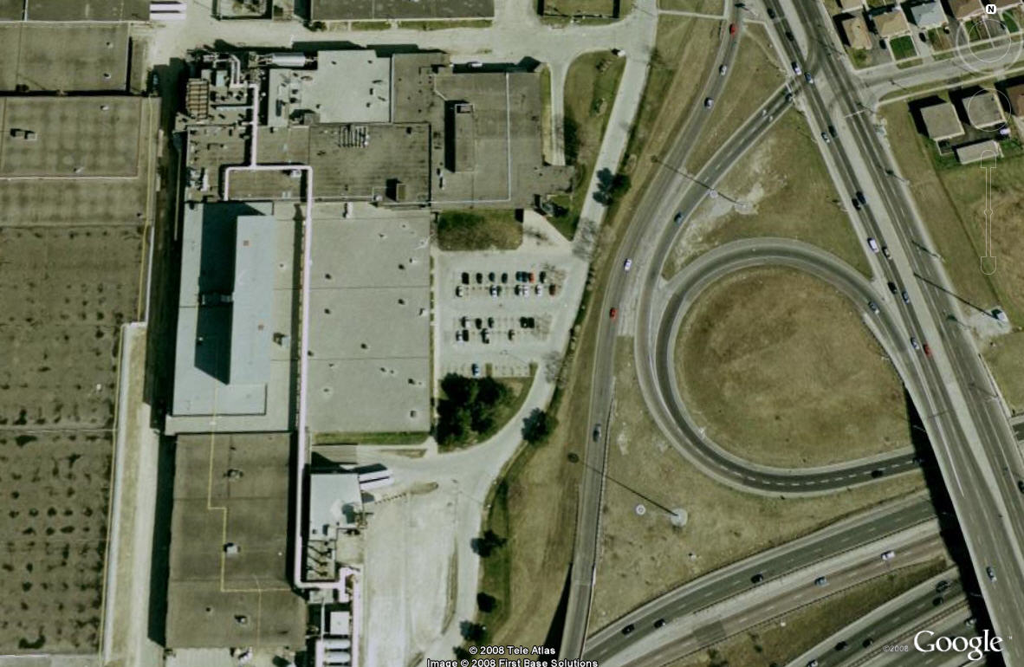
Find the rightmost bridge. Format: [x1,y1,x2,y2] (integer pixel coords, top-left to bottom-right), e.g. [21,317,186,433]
[905,372,1024,667]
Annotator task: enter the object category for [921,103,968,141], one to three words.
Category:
house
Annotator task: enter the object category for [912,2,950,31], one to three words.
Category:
house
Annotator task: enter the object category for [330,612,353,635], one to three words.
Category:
building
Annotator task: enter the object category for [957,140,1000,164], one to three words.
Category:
building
